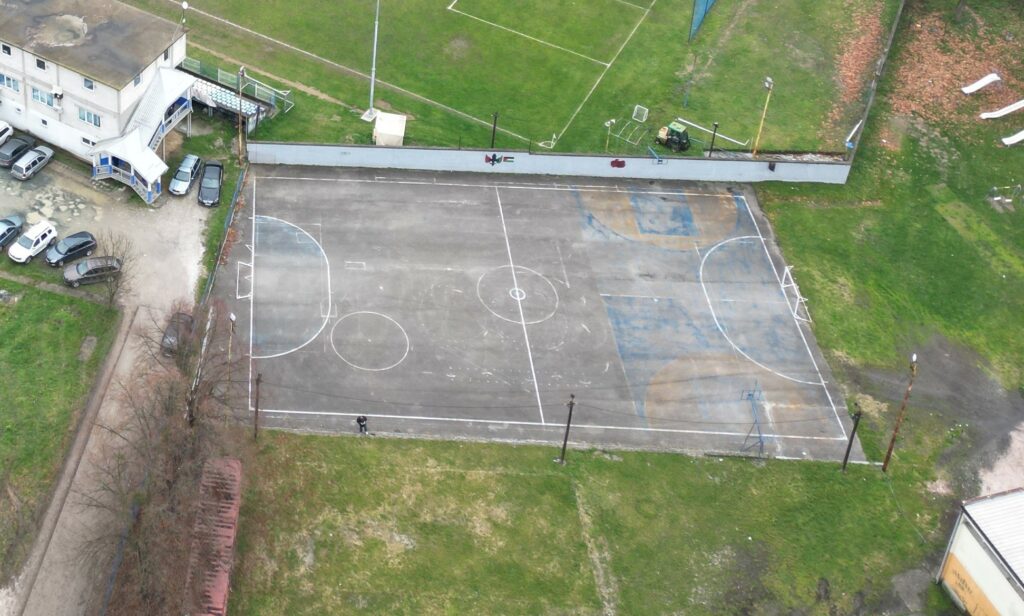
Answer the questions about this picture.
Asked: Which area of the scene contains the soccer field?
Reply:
top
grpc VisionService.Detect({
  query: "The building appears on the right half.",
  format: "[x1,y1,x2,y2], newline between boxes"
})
[931,480,1024,616]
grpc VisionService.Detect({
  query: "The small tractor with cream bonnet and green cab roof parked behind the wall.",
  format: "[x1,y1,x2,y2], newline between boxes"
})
[654,118,701,153]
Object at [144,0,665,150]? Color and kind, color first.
green soccer field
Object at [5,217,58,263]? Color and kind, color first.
white car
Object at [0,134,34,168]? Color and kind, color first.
gray car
